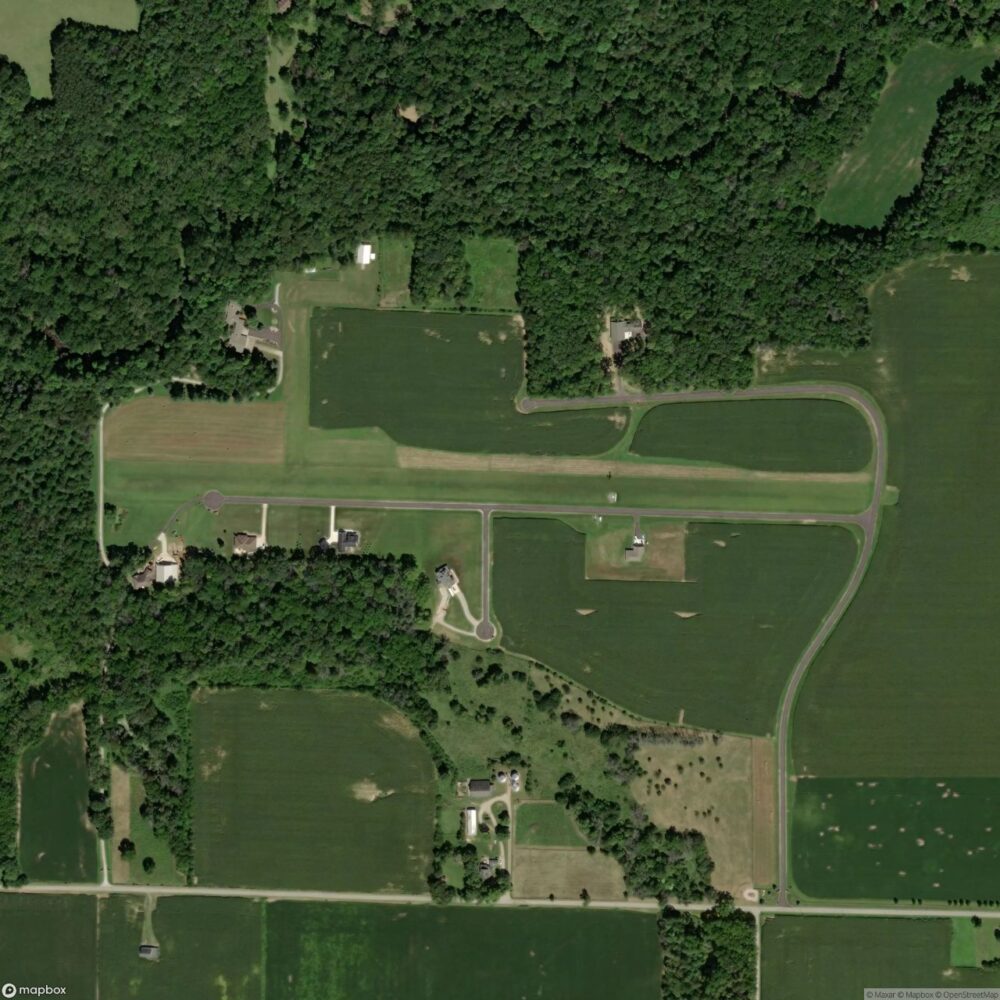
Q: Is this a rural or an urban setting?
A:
rural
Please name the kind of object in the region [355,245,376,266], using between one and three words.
barn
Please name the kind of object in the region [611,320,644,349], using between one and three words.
hangar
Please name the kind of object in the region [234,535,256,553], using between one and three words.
house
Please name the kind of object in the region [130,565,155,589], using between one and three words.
house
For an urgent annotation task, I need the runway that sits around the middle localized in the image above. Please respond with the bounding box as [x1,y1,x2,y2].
[104,302,866,512]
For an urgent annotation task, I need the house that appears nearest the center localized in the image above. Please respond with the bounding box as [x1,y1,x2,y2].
[435,565,458,591]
